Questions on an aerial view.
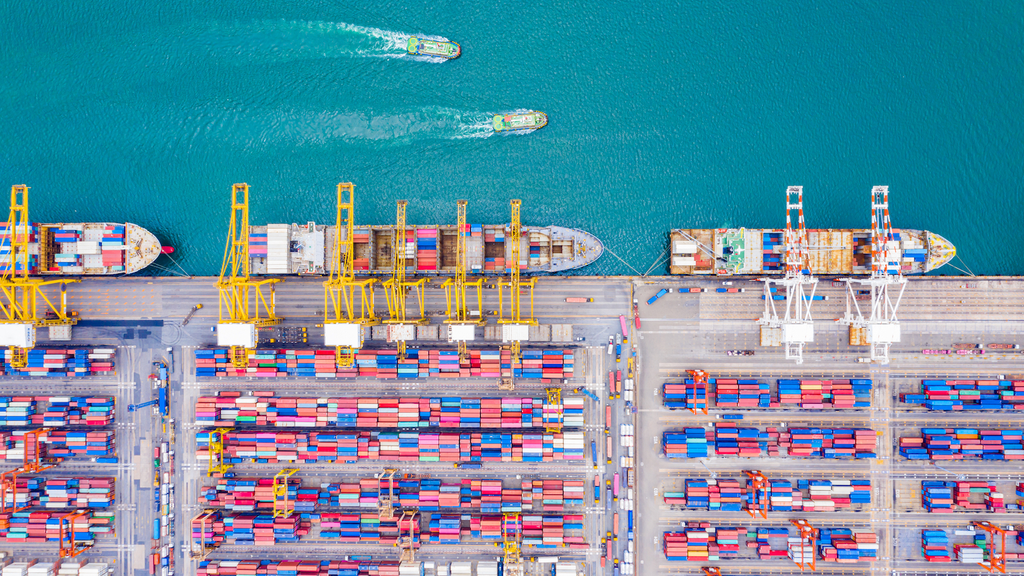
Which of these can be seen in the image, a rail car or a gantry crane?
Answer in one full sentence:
Looking from above, you can make out a gantry crane.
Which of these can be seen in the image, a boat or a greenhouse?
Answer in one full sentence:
The one in the frame is a boat.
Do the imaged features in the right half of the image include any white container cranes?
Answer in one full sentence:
Yes, I can see a white container crane in the right half of the image.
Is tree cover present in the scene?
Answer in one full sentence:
No, there is no tree cover in the image.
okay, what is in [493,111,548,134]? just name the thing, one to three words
boat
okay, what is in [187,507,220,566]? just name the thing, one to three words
container crane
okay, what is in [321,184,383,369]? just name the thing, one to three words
container crane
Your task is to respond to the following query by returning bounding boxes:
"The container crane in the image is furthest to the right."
[968,517,1009,573]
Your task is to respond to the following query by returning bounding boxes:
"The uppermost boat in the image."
[407,34,462,60]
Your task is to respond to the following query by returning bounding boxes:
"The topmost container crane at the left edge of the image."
[0,184,78,369]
